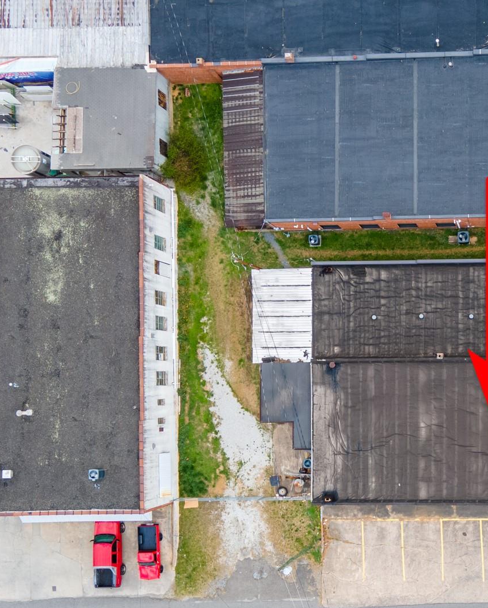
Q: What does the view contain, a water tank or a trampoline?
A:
water tank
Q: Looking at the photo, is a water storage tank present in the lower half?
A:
No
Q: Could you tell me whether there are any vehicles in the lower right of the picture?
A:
No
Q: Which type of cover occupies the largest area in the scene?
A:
buildings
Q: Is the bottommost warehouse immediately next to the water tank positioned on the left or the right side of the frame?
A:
left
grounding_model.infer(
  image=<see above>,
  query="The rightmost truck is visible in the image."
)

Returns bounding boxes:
[133,522,166,583]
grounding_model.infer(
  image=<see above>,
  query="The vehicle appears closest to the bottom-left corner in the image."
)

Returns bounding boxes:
[89,521,127,590]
